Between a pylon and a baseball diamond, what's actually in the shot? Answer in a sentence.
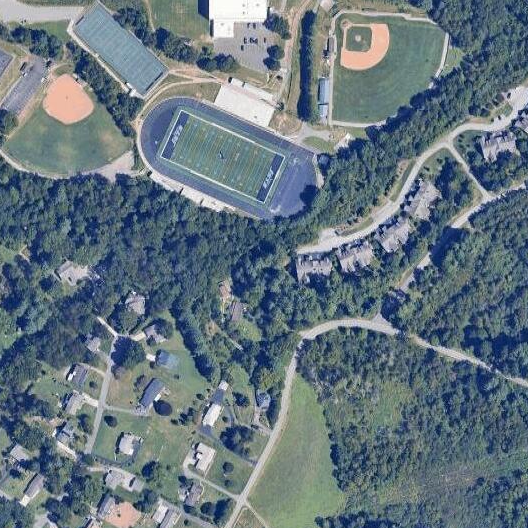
Looking from above, you can make out a baseball diamond.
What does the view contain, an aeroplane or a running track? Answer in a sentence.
Visible in the photo is a running track.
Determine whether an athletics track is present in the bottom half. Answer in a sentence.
No, I can find no athletics track in the bottom half.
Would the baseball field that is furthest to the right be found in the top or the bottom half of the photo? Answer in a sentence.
The baseball field that is furthest to the right is in the top half of the image.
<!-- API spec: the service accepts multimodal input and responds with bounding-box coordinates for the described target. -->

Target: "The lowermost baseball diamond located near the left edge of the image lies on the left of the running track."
[6,70,134,174]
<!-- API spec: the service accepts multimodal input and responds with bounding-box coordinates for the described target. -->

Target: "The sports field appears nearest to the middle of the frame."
[155,102,291,210]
